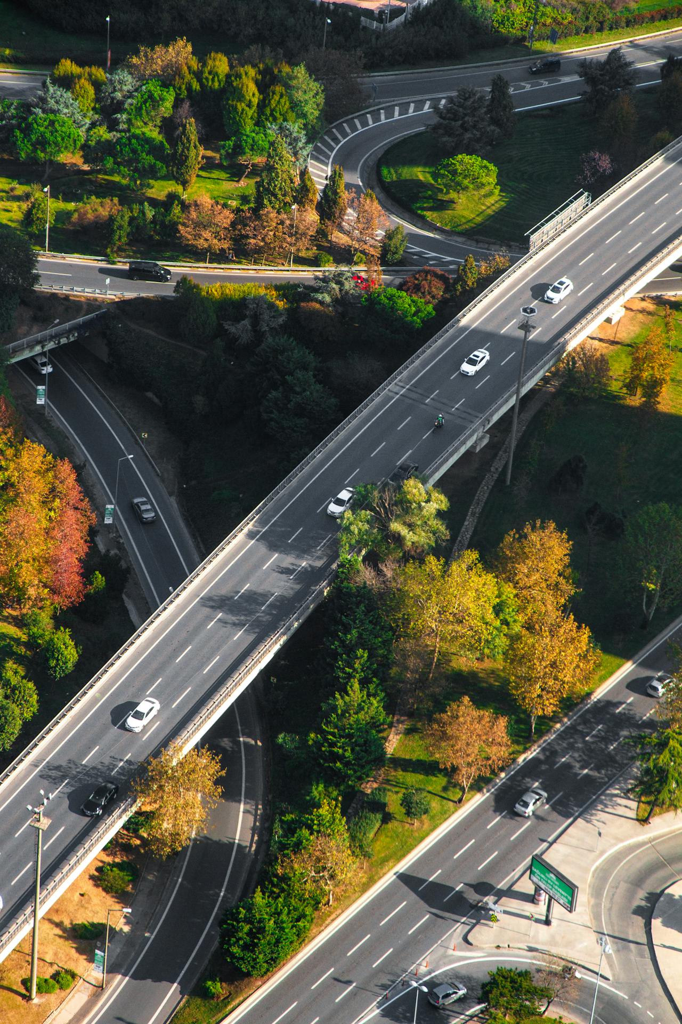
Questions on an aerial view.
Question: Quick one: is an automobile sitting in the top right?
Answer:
Yes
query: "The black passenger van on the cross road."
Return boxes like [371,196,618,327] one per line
[128,260,171,284]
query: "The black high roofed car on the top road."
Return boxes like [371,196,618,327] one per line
[528,53,563,75]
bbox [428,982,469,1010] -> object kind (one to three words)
car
